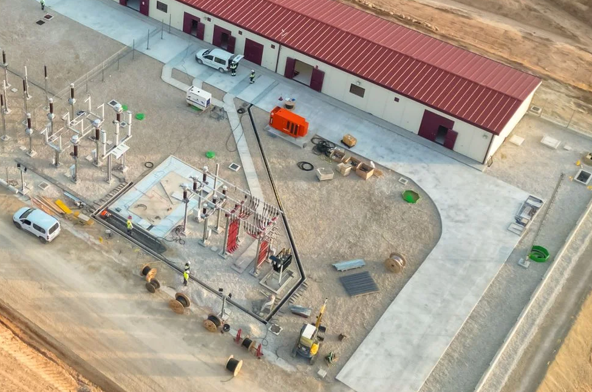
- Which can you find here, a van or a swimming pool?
van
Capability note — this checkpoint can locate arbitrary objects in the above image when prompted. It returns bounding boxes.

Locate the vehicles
[291,303,331,360]
[196,44,245,72]
[14,205,63,246]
